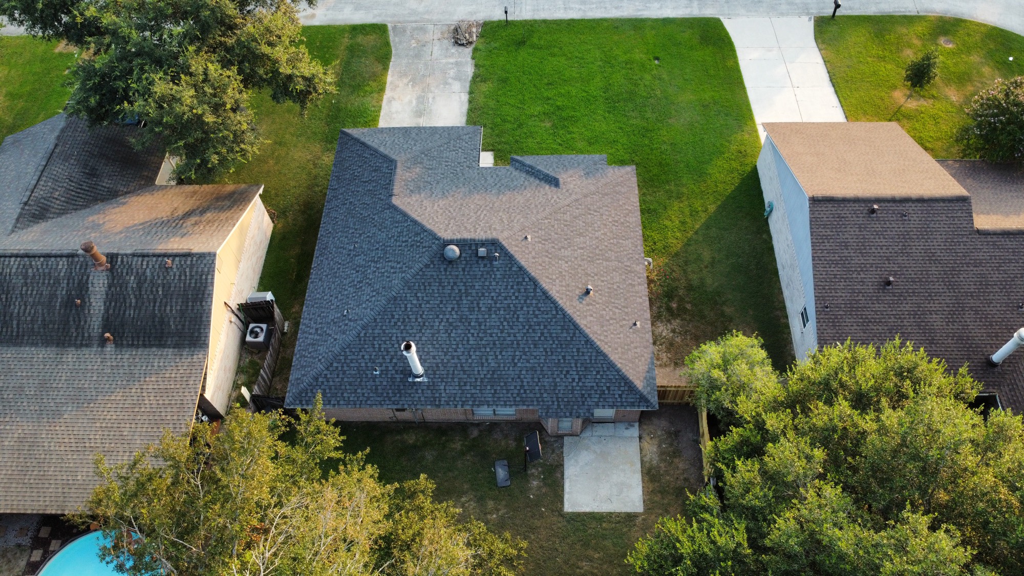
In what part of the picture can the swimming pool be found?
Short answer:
bottom left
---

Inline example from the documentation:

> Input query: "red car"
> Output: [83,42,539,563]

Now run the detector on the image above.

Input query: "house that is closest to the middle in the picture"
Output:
[282,125,659,436]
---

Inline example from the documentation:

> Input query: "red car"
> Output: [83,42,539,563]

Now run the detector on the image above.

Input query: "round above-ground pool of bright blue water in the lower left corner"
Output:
[38,525,199,576]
